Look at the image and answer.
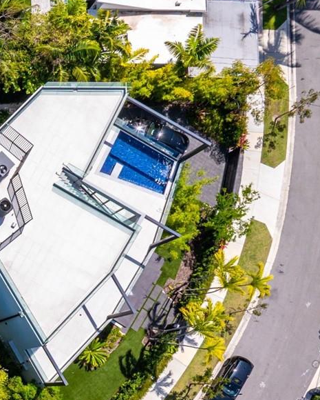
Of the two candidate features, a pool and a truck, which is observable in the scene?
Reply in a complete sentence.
Visible in the photo is a pool.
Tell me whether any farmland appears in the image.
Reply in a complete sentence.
No, farmland can't be seen anywhere here.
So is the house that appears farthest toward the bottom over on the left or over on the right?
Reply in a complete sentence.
It is on the left.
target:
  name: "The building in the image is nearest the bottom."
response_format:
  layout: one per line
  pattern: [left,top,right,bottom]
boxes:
[0,86,212,386]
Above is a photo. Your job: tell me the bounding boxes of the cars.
[200,350,254,400]
[129,113,194,164]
